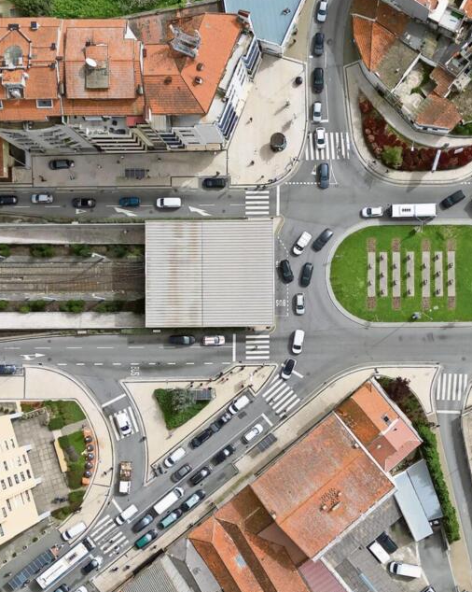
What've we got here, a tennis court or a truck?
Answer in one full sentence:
Of the two, only a truck appears.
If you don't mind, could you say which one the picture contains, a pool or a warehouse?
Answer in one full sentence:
The image shows a warehouse.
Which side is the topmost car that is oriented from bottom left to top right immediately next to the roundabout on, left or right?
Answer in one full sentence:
It is on the right.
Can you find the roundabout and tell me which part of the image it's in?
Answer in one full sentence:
You can find the roundabout in the right area of the picture.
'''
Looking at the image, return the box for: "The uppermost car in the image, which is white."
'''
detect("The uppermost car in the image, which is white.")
[316,0,328,23]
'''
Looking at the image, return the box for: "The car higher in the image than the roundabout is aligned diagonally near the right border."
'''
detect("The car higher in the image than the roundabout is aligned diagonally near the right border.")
[440,189,465,209]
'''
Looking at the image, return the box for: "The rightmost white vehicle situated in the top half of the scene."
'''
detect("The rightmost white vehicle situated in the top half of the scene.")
[388,205,437,221]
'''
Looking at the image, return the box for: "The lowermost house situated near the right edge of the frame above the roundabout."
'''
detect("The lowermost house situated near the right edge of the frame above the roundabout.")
[414,93,462,135]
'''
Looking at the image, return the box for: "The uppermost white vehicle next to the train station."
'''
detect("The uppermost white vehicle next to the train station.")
[155,196,180,209]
